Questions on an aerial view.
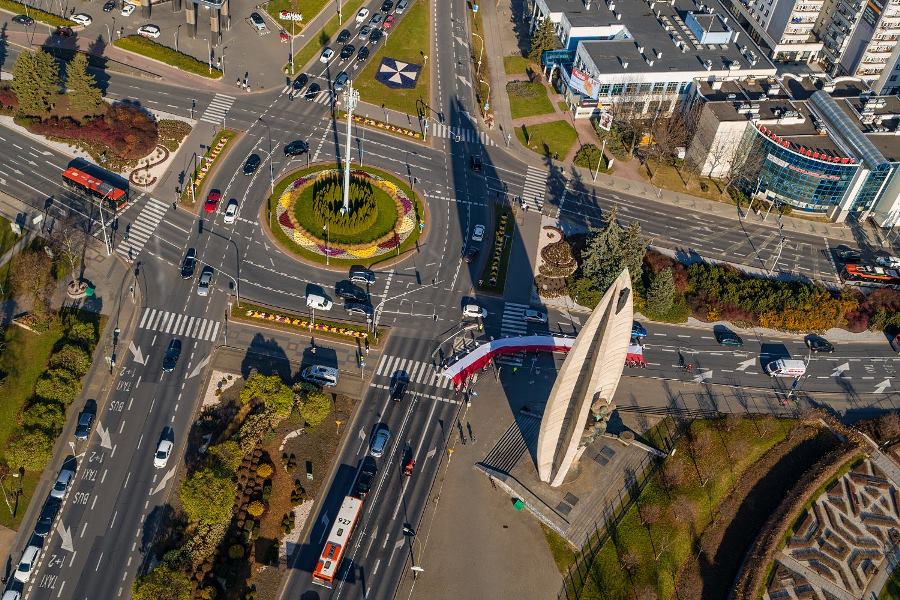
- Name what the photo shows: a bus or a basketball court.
bus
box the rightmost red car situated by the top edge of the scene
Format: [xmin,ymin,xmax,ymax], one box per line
[381,16,396,30]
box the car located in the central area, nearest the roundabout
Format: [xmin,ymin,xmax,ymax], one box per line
[345,266,378,285]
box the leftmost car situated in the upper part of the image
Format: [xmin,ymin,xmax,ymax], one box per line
[10,14,36,28]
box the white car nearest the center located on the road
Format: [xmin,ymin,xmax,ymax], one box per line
[460,303,488,320]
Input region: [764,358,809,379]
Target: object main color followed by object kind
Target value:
white vehicle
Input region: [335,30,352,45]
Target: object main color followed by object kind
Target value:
black car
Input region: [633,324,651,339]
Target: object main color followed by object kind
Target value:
blue car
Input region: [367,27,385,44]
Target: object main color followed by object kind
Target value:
black car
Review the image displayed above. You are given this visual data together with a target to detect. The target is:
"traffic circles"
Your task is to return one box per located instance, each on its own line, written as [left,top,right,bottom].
[258,161,432,271]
